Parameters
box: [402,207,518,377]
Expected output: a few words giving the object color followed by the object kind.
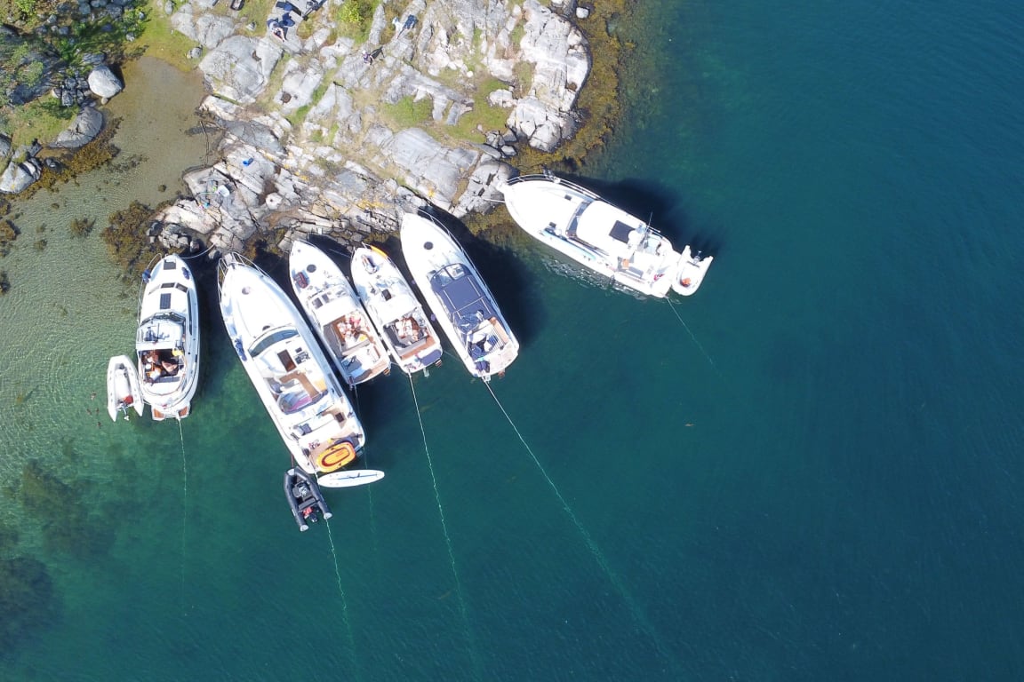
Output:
white boat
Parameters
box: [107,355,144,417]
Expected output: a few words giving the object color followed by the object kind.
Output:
white boat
